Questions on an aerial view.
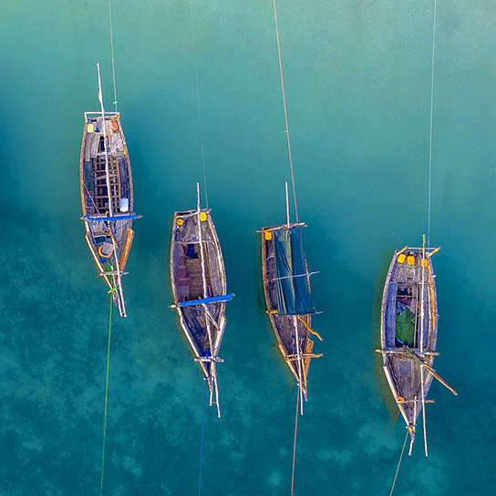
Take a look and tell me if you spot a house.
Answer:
No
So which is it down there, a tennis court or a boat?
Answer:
boat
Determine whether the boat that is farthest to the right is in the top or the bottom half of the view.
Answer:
bottom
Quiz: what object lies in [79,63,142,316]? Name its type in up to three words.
boat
